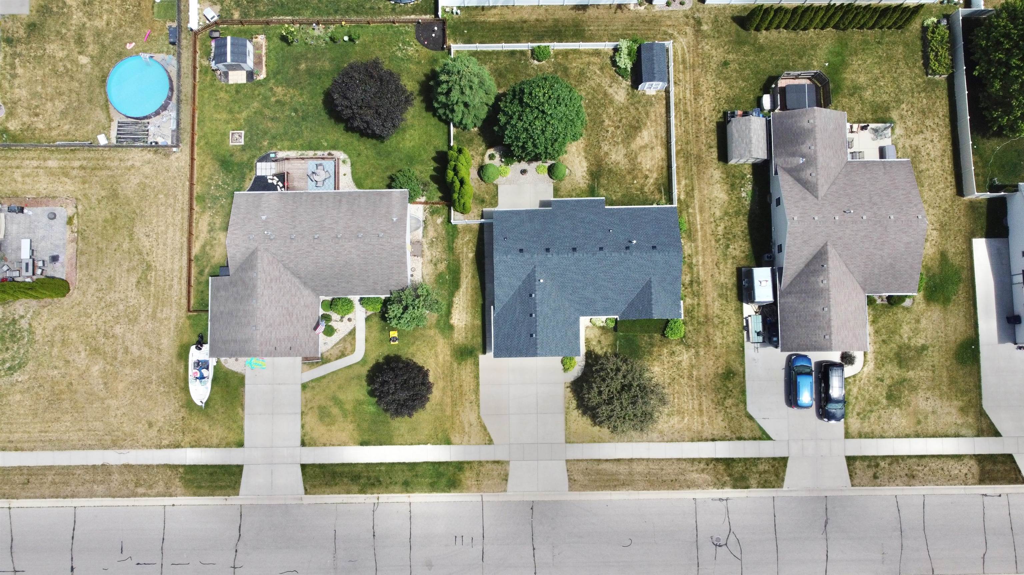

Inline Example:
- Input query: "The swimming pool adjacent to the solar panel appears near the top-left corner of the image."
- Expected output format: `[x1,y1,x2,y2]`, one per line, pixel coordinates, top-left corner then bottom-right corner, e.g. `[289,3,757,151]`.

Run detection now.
[106,55,175,121]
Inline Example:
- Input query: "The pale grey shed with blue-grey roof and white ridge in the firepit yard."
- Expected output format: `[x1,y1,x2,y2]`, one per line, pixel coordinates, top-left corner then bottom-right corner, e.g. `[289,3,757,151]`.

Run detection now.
[209,32,250,69]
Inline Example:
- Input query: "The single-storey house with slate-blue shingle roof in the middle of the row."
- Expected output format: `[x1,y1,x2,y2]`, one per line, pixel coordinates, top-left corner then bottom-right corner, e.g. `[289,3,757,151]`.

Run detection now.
[491,196,685,359]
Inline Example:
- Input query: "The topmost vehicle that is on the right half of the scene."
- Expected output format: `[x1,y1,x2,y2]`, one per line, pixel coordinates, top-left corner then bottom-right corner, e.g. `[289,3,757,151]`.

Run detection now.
[737,264,774,315]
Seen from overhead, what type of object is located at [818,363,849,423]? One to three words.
car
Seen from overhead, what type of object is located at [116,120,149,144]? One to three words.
solar panel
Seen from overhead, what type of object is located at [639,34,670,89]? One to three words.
shed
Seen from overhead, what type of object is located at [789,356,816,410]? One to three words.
car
